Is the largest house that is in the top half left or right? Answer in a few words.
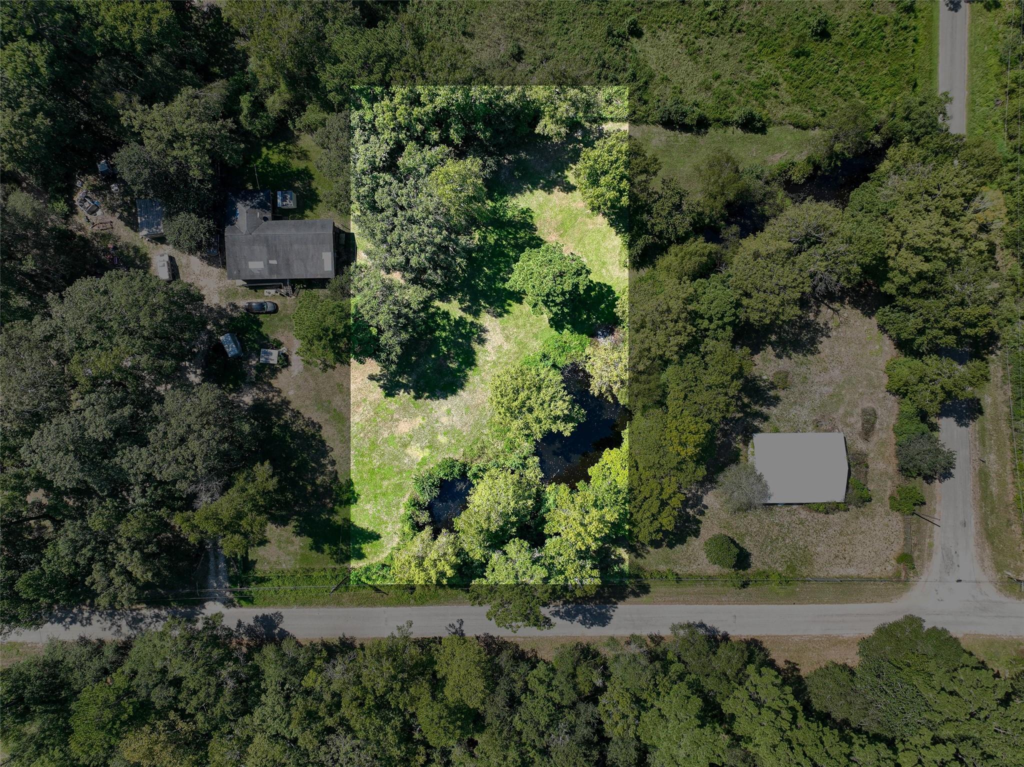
left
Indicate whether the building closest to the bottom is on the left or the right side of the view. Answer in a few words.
right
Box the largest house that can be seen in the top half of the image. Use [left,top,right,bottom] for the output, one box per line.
[221,191,336,297]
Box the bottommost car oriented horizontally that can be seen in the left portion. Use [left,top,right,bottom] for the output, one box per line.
[243,299,276,314]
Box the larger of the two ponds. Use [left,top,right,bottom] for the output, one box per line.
[531,325,642,494]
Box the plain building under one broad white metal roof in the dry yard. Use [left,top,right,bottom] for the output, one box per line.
[741,433,846,505]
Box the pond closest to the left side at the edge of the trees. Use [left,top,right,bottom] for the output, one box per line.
[425,472,481,536]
